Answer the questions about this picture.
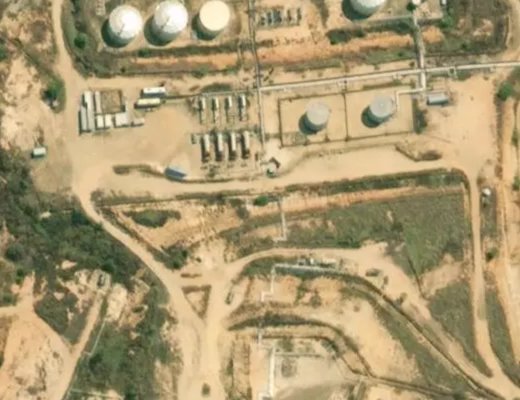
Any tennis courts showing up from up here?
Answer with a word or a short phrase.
No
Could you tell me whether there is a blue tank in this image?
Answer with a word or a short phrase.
No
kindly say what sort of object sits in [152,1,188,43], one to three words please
storage tank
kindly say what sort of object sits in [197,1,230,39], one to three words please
storage tank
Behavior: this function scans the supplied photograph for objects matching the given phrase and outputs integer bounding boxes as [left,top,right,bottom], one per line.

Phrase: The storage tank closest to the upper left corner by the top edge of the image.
[108,6,142,46]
